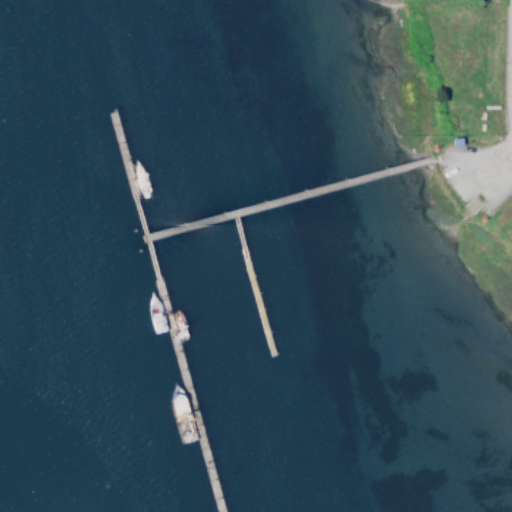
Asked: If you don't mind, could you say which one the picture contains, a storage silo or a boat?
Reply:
boat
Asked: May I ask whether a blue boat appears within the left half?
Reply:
No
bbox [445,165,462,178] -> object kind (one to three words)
vehicle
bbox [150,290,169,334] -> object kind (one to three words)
boat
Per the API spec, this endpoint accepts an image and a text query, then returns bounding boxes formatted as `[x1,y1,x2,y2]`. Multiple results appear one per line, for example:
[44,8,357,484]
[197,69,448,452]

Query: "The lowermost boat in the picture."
[172,384,202,444]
